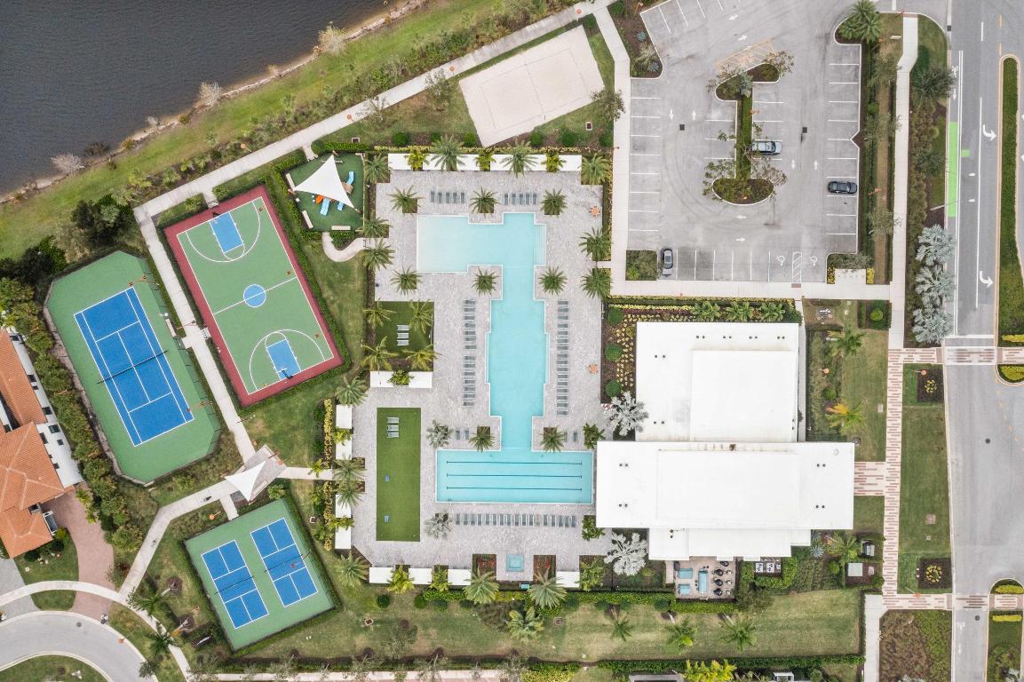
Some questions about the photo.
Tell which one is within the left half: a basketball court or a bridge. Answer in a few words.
basketball court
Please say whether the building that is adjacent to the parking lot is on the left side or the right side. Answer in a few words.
right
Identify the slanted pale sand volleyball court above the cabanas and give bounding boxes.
[460,25,603,147]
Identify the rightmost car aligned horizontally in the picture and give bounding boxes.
[825,181,856,194]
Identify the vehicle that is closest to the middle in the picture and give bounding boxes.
[660,248,674,277]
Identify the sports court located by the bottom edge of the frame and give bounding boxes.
[185,500,334,652]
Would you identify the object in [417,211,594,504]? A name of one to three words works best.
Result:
swimming pool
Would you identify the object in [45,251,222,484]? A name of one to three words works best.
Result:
tennis court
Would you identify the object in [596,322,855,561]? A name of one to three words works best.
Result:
building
